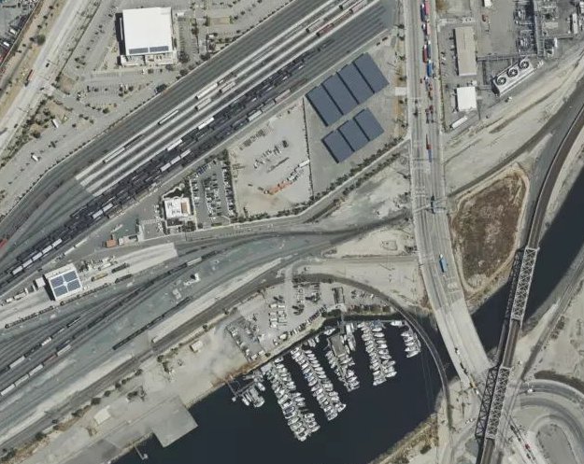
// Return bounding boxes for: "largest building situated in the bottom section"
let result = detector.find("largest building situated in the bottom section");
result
[44,263,83,304]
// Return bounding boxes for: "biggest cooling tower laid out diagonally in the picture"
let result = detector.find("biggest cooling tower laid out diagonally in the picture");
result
[492,57,534,98]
